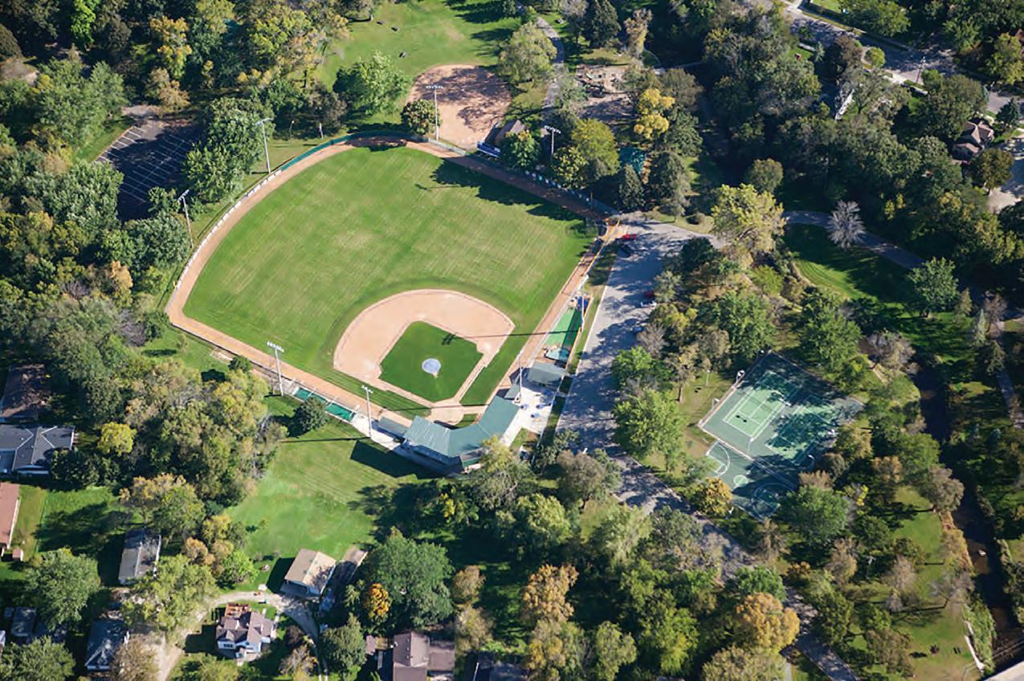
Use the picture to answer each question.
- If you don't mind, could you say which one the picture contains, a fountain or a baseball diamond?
baseball diamond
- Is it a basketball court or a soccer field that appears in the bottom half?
basketball court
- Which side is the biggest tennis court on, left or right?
right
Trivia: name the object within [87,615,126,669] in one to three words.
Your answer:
house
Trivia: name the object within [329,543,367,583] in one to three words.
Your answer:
shed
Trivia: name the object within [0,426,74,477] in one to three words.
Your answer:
house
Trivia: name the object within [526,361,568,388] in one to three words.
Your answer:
building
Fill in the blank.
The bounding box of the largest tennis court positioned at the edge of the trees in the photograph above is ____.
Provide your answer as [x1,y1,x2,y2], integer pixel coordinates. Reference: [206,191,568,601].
[699,351,863,484]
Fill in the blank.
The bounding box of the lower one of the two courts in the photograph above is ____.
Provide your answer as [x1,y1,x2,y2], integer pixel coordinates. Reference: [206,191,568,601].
[690,441,793,522]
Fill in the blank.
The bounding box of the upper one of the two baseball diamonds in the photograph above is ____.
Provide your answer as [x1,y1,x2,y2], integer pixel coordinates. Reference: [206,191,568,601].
[407,65,512,151]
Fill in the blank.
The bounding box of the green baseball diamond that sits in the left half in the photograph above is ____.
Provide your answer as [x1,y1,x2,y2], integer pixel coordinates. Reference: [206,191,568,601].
[166,131,619,430]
